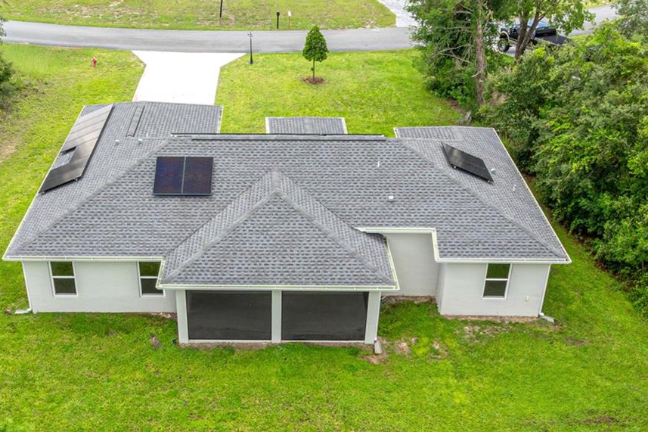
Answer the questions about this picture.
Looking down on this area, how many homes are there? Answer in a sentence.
The count comes to 1 home.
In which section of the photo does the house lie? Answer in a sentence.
You can find the house in the center area of the picture.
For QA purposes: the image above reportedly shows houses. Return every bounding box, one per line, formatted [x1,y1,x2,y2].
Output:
[2,101,572,346]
